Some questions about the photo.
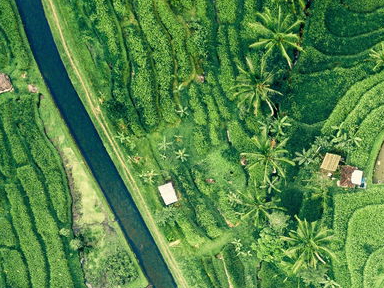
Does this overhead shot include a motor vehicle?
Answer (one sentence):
No, there is no motor vehicle in the image.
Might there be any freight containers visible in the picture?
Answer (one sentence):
No, there is no freight container in the image.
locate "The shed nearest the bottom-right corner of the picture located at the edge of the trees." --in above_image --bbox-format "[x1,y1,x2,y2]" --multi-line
[339,167,358,190]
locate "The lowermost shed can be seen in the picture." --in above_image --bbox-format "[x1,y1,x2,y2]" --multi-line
[158,182,183,206]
